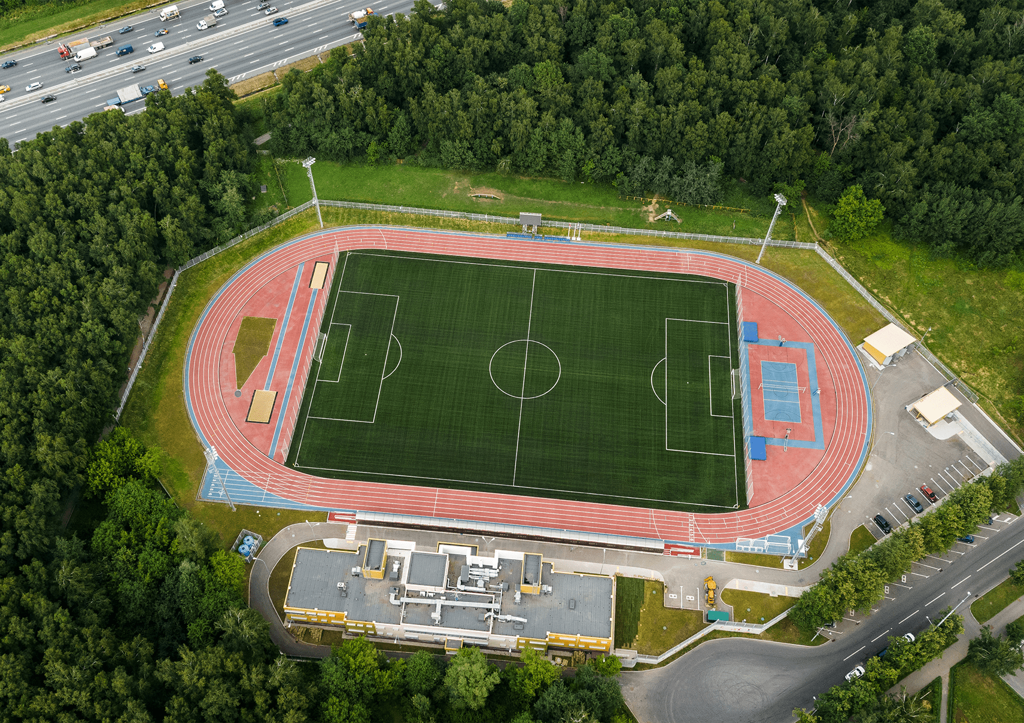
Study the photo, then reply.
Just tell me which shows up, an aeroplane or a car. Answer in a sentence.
Of the two, only a car appears.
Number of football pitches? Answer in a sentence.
The picture shows 1 football pitch.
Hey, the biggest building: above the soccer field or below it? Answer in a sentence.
In the image, the biggest building sits below the soccer field.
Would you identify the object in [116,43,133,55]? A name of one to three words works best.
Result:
vehicle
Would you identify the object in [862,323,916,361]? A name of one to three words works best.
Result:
shed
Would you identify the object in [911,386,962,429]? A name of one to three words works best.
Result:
shed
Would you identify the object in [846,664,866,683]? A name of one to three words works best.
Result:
car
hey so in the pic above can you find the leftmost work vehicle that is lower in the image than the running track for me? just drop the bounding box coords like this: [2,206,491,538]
[705,576,719,610]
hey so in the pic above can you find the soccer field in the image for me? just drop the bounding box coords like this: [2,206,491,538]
[284,249,748,513]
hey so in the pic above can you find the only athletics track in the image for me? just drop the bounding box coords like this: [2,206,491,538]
[181,224,874,558]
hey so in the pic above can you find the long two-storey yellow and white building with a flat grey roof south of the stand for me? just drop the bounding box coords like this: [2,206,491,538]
[283,538,614,662]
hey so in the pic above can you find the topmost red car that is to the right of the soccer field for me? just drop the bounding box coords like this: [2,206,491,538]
[920,484,938,501]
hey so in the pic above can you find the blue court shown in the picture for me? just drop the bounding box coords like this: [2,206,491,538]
[739,336,825,450]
